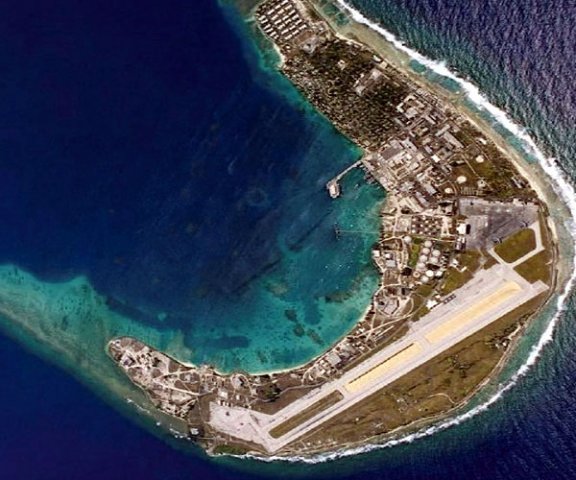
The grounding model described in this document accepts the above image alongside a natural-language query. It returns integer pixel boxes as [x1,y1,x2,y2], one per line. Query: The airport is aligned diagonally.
[210,198,549,452]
